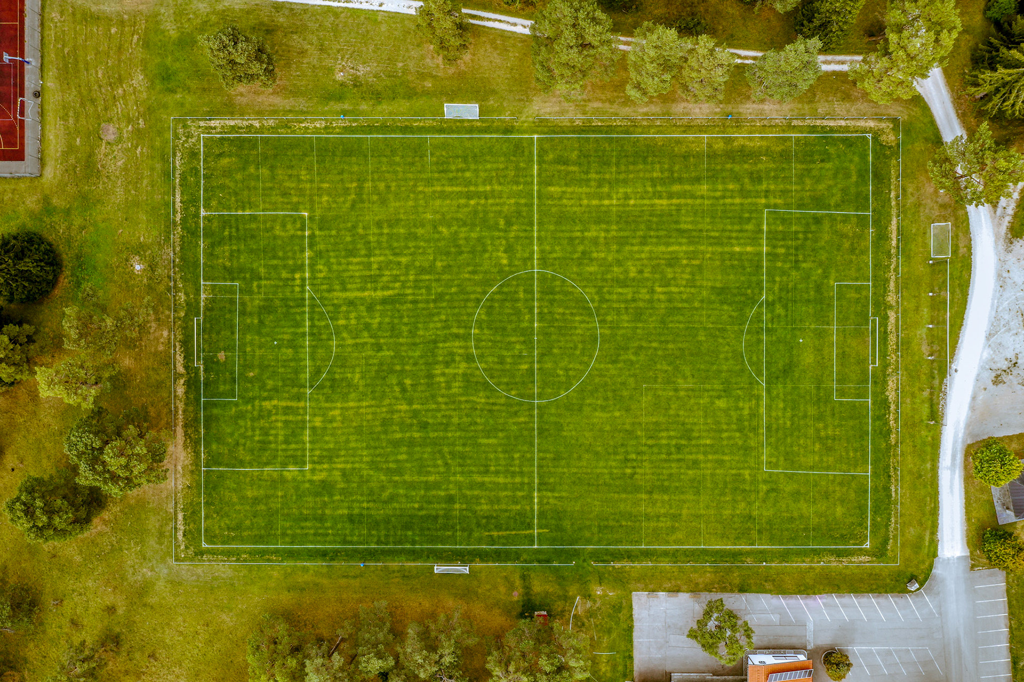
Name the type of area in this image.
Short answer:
sports ground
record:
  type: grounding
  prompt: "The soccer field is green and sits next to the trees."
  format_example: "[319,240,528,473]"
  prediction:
[174,119,898,562]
